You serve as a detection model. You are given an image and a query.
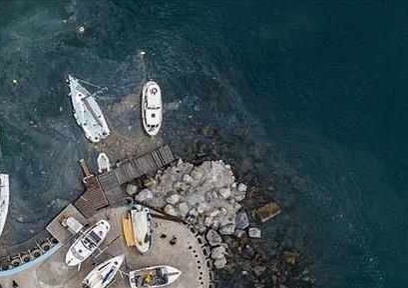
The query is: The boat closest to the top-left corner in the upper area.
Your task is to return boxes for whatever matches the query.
[66,77,107,144]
